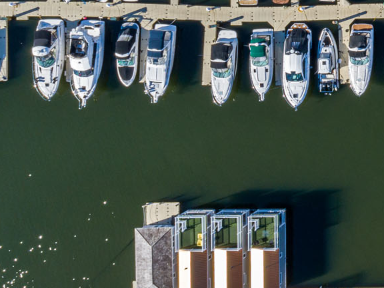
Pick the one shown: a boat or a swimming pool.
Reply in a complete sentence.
Visible in the photo is a boat.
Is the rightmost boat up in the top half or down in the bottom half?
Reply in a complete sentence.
You can find the rightmost boat in the top half.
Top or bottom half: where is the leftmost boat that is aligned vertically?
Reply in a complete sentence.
You can find the leftmost boat that is aligned vertically in the top half.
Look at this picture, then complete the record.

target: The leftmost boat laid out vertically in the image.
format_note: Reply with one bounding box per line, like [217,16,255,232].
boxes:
[32,18,68,101]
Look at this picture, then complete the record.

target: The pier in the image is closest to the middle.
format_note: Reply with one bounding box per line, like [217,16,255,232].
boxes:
[146,200,181,225]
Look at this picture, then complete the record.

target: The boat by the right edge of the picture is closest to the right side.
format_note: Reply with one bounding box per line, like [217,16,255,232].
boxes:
[347,21,377,96]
